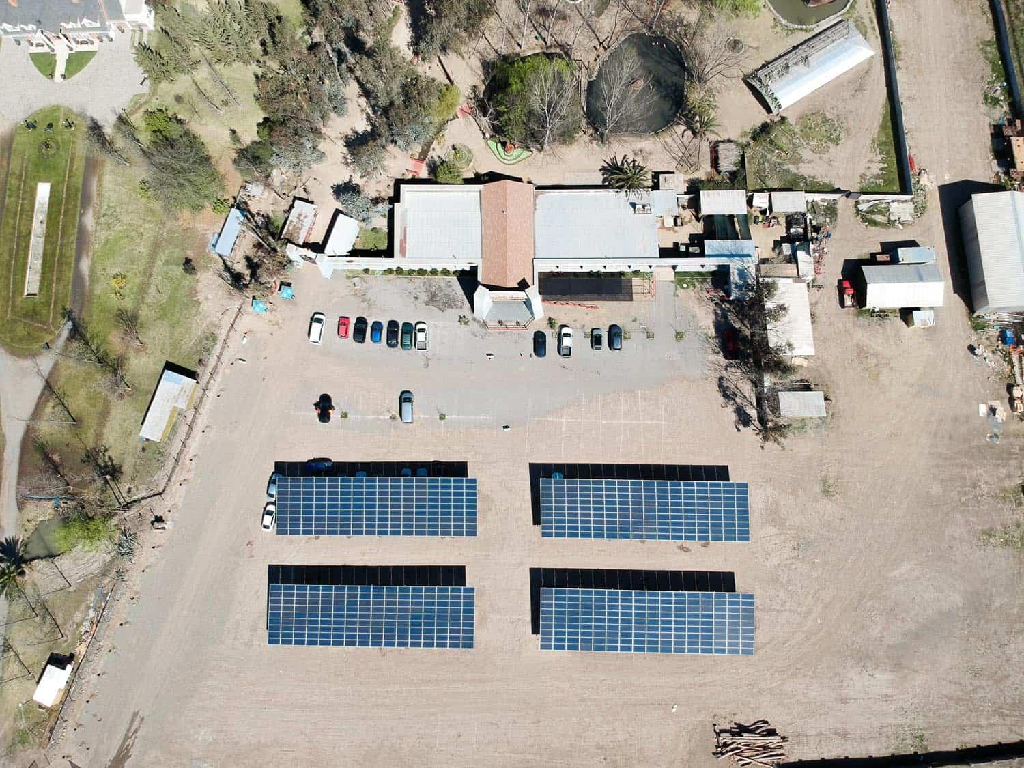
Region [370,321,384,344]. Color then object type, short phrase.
blue car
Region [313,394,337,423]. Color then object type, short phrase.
black car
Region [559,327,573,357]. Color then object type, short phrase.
white vehicle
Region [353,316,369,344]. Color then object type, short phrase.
black car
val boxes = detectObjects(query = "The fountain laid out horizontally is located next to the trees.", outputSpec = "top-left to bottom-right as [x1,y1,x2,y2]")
[486,138,533,164]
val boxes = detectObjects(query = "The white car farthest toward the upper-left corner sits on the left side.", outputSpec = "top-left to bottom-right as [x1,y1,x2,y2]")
[309,313,326,344]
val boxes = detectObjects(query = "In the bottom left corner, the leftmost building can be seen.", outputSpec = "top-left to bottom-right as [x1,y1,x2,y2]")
[33,660,82,706]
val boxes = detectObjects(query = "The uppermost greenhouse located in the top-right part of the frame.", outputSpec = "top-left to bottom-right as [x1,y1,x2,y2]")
[749,22,872,114]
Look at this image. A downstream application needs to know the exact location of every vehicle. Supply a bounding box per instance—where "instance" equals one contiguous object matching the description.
[400,323,414,350]
[263,502,276,531]
[416,471,428,477]
[433,465,447,495]
[840,280,856,309]
[591,328,603,351]
[559,327,573,357]
[415,322,428,351]
[264,473,281,502]
[353,316,369,344]
[723,328,738,360]
[401,392,414,422]
[309,313,326,344]
[609,325,623,352]
[534,331,546,358]
[387,321,400,349]
[338,316,350,339]
[370,321,384,344]
[313,394,337,423]
[305,460,335,475]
